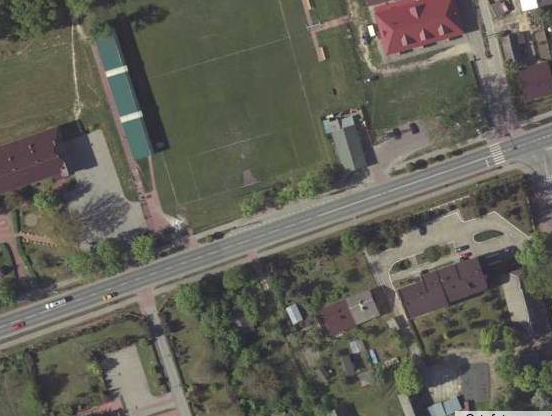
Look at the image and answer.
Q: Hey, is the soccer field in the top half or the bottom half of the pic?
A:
top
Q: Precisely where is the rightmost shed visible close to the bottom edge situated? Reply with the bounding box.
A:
[427,396,462,416]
